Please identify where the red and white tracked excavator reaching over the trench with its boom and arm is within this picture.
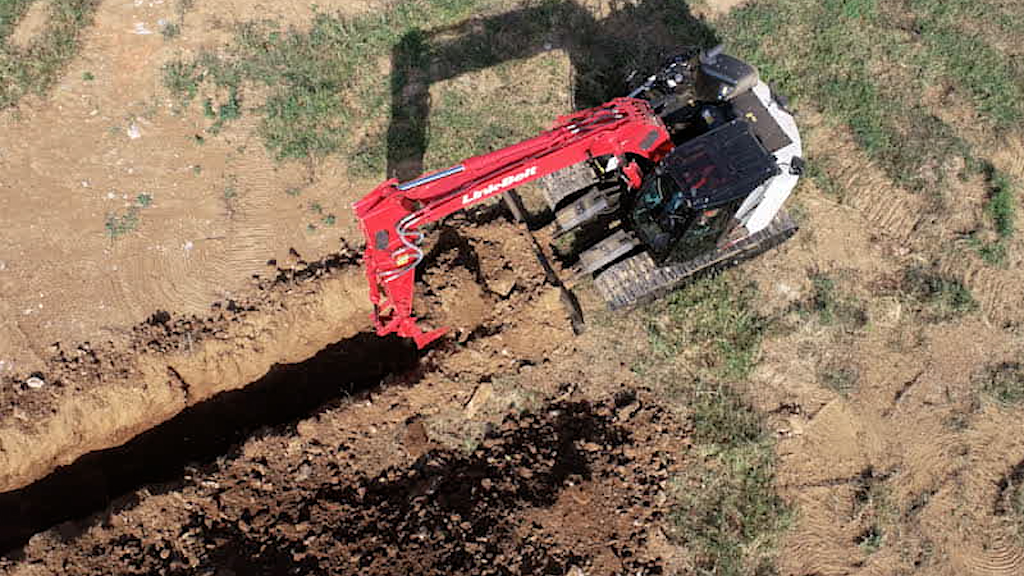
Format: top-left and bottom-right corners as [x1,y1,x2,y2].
[347,41,810,349]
